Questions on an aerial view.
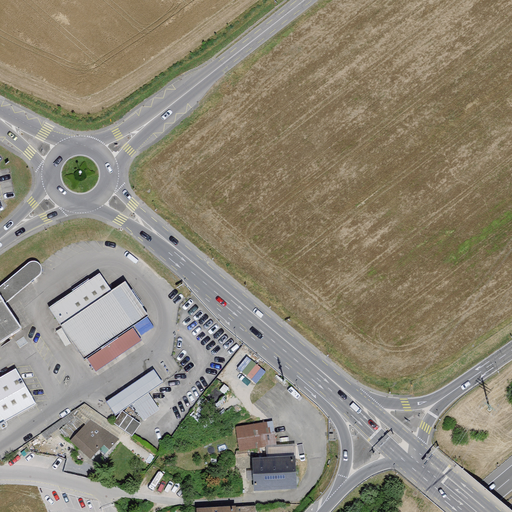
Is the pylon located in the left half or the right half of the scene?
right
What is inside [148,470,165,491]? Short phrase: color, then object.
white camper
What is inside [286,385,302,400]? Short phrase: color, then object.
white vehicle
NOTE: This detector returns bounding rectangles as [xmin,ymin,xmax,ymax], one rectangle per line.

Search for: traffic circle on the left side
[42,136,119,212]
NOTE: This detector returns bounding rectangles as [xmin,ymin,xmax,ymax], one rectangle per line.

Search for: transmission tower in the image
[406,374,512,510]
